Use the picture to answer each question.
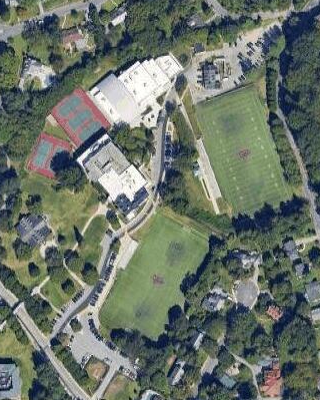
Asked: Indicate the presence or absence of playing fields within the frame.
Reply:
Yes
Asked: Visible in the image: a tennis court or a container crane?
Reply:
tennis court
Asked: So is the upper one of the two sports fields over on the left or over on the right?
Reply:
right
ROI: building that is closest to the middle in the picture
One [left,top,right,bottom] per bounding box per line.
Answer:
[80,141,149,220]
